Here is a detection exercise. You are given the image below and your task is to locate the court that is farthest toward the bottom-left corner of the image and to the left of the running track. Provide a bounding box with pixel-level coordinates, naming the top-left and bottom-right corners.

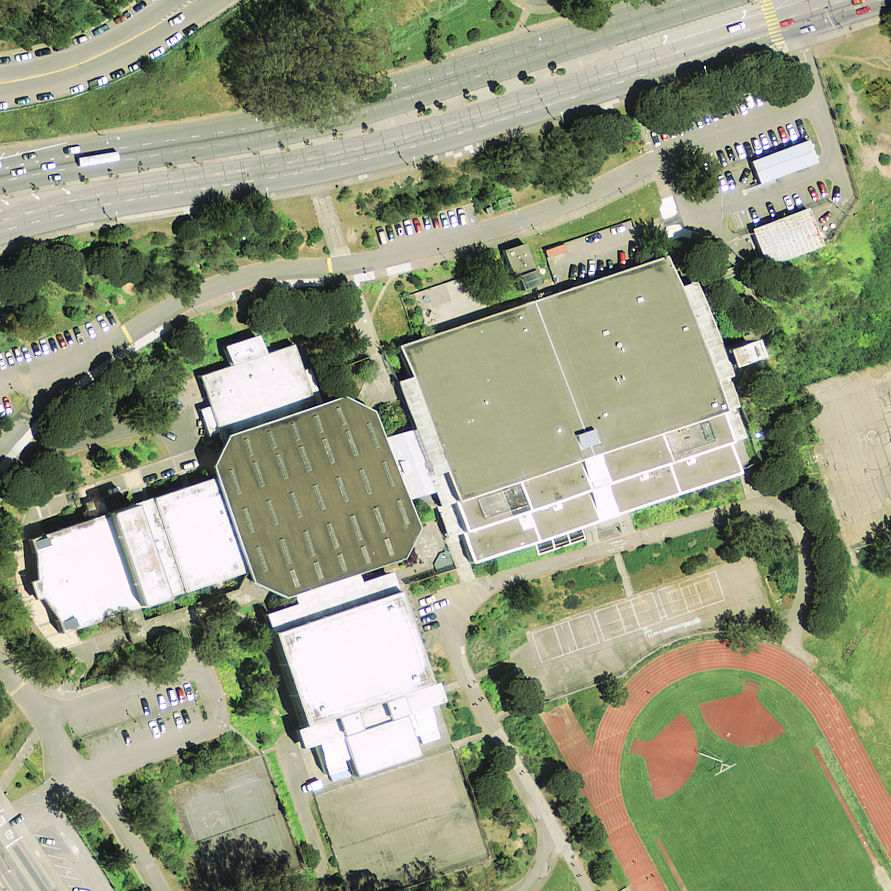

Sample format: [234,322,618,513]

[171,757,298,881]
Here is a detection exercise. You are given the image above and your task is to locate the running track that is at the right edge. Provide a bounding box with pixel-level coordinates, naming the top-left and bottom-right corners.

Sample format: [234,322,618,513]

[542,640,891,891]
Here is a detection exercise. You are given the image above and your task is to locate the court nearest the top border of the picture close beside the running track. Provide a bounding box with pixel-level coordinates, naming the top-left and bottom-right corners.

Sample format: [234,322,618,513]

[511,556,775,700]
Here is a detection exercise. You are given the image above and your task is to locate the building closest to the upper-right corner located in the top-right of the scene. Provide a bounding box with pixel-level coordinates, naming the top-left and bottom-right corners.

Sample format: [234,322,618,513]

[743,141,819,195]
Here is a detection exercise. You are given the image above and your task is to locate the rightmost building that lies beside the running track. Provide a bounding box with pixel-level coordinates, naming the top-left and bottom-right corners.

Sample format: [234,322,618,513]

[399,256,747,563]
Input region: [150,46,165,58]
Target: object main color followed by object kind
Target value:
white vehicle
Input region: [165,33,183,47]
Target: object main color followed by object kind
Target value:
white vehicle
